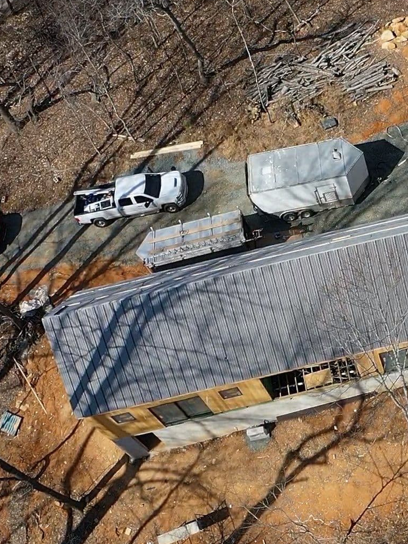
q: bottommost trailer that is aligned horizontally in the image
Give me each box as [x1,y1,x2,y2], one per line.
[142,204,276,273]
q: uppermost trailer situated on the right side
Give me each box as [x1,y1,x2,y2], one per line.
[247,137,391,222]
